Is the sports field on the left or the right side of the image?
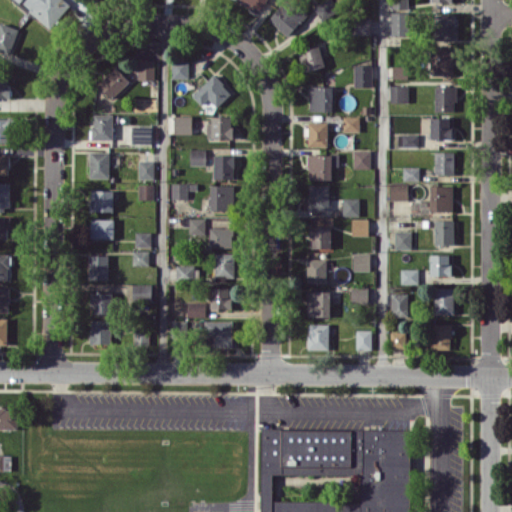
left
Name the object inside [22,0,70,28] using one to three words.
house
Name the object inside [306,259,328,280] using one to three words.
house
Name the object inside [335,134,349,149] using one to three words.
swimming pool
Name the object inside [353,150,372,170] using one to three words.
building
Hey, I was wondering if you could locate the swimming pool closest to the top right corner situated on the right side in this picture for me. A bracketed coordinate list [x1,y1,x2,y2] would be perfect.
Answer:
[340,94,358,112]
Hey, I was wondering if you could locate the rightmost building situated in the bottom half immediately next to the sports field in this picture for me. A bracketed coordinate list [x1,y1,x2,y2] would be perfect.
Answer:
[262,431,410,512]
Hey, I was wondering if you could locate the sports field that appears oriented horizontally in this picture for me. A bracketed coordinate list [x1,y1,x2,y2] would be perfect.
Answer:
[26,431,248,512]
